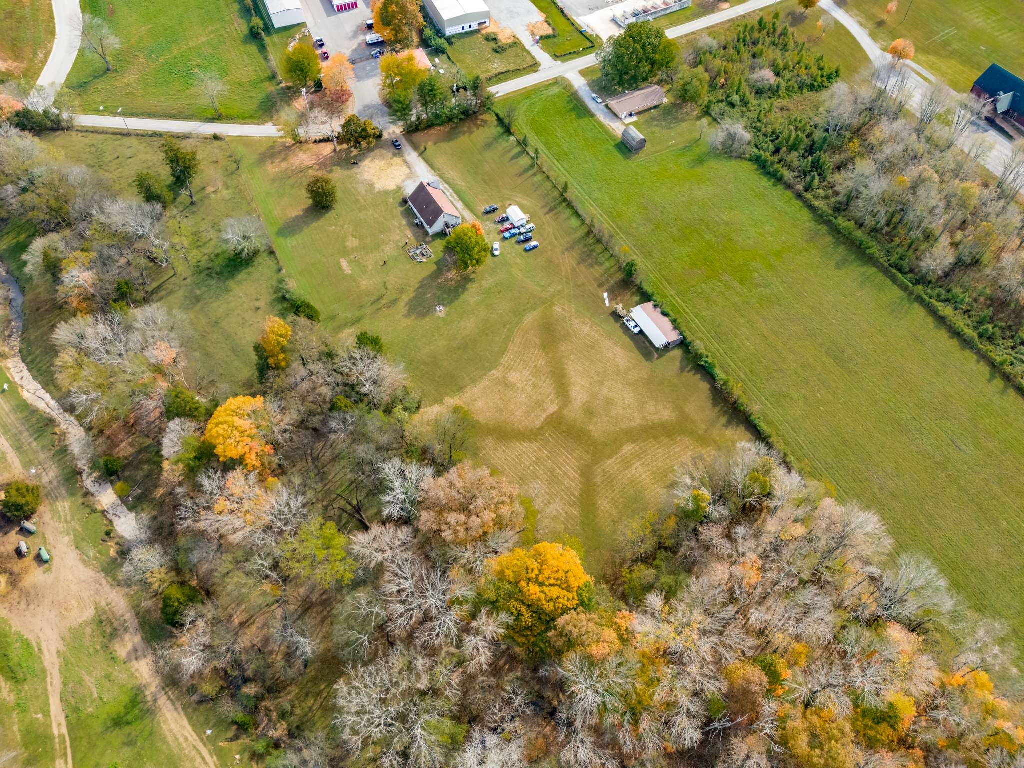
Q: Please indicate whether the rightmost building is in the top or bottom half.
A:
top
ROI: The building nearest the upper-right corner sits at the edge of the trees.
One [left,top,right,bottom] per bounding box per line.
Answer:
[971,65,1024,130]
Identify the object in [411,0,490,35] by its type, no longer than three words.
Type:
building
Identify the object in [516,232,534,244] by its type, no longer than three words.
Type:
vehicle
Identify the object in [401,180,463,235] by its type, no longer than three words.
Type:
house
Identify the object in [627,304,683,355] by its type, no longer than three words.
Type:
shed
